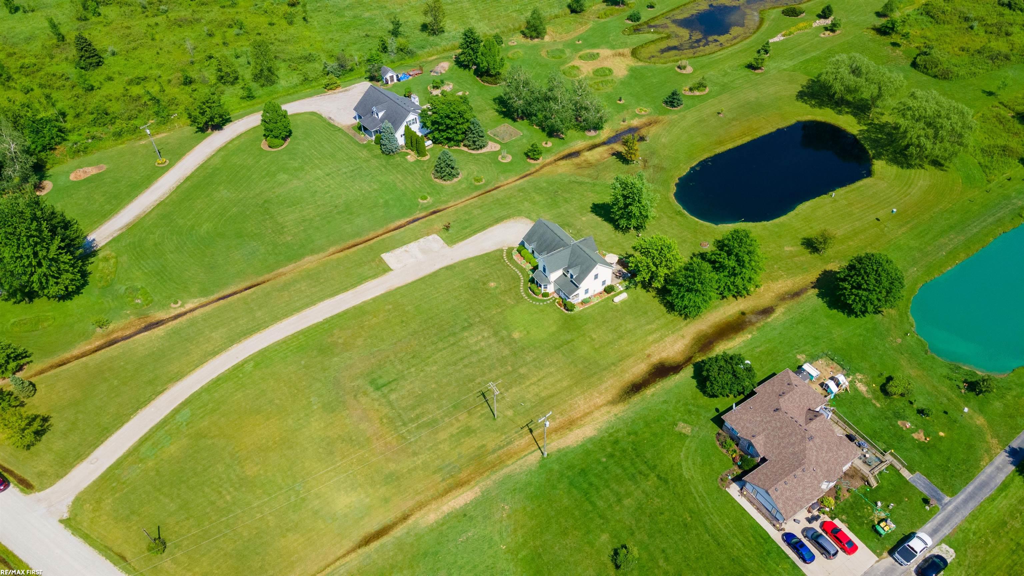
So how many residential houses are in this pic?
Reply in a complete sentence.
The number of residential houses here is 3.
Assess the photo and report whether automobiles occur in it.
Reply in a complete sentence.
Yes, I can see an automobile in this picture.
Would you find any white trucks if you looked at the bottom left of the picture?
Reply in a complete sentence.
No, at the bottom left of the picture there is no white truck.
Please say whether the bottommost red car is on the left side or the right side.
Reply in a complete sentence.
The bottommost red car sits on the right side.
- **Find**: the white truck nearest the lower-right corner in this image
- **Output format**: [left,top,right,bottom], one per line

[890,532,935,572]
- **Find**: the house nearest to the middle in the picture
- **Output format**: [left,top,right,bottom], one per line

[522,218,615,303]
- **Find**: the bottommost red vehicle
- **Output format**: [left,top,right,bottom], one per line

[818,518,863,559]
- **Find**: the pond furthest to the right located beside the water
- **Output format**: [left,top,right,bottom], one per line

[909,225,1024,375]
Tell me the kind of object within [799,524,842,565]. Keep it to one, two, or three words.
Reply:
car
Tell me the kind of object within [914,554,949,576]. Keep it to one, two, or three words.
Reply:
car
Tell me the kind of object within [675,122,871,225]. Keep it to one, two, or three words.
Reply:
pond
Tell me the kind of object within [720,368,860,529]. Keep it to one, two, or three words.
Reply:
house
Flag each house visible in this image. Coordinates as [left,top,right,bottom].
[522,218,615,303]
[720,368,860,529]
[353,85,428,146]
